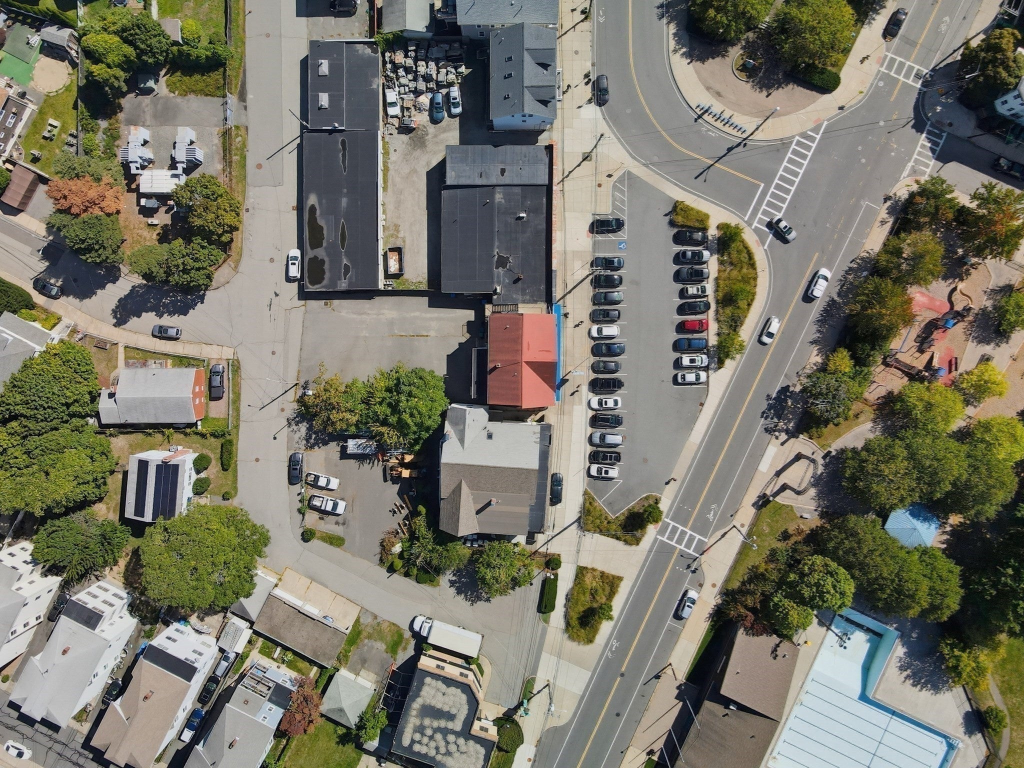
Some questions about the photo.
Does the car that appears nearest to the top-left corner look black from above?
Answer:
Yes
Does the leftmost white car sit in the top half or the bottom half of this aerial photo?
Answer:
bottom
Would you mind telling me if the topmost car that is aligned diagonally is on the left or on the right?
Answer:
right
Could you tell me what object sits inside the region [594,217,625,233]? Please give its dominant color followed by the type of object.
black car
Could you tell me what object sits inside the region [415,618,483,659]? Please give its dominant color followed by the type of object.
white truck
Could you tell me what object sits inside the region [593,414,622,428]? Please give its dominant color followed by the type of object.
black car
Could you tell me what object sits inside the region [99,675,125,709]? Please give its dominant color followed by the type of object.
black truck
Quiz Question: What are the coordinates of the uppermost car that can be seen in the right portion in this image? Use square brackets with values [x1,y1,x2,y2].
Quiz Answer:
[882,7,909,42]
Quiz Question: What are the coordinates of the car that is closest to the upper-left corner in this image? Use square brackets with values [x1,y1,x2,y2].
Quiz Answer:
[31,277,64,299]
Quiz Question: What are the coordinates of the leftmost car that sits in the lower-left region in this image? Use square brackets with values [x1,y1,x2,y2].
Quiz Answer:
[4,739,33,759]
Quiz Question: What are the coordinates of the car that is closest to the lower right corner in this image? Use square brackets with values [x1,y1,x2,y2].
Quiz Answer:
[677,589,698,619]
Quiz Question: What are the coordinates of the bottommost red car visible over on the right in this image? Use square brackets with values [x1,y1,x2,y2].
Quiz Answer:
[682,319,709,332]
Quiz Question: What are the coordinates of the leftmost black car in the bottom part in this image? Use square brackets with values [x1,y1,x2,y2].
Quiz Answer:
[48,592,71,621]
